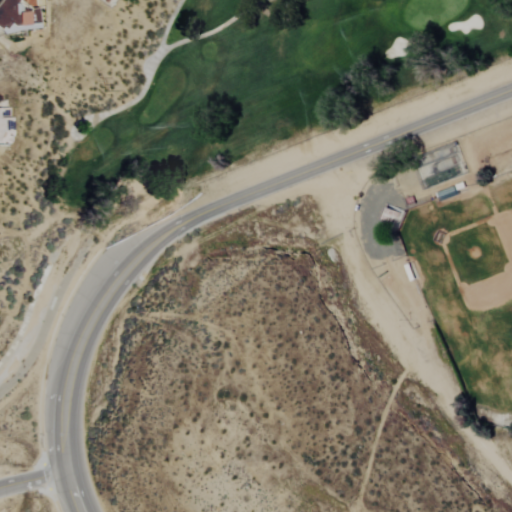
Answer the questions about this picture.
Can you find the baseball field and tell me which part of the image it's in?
right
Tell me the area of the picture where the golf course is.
top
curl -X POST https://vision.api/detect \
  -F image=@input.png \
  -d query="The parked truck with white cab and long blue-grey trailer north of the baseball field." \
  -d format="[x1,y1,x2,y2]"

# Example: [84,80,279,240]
[436,184,465,200]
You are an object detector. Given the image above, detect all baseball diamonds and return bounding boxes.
[400,178,512,412]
